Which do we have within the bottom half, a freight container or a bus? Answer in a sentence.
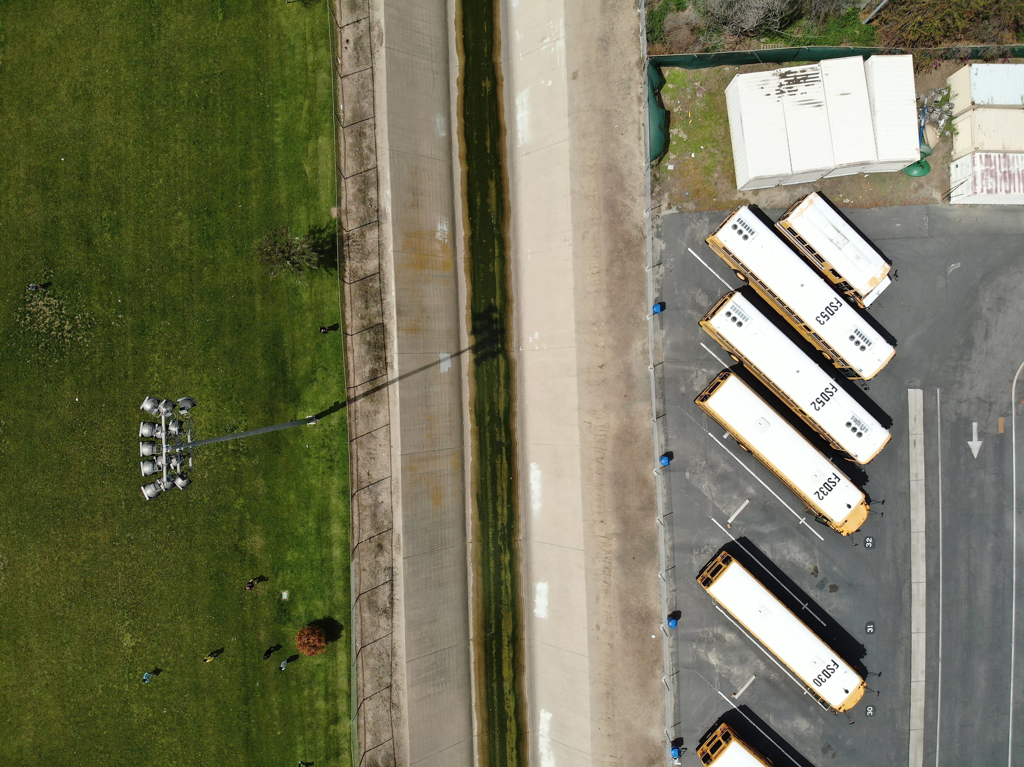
You can see a bus within the bottom half.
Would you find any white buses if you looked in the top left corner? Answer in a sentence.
No, there is no white bus in the top left corner.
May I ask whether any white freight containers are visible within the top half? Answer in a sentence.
Yes, a white freight container shows up within the top half.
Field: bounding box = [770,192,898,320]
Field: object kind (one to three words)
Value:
bus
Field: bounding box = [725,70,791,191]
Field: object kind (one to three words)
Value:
shipping container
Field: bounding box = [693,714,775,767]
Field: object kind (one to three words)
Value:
bus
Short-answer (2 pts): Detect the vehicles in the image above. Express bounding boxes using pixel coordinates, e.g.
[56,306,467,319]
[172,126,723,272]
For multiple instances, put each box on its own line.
[694,293,890,474]
[702,208,896,394]
[770,192,898,320]
[693,714,775,767]
[691,370,883,546]
[692,545,882,725]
